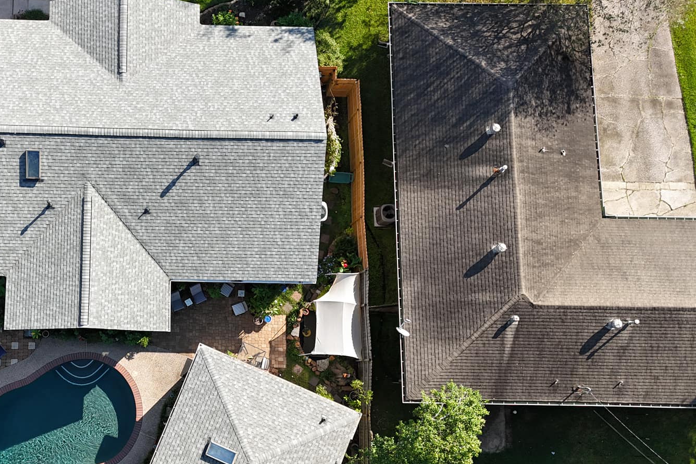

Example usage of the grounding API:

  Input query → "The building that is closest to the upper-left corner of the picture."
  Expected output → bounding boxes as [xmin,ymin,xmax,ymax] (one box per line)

[0,0,325,332]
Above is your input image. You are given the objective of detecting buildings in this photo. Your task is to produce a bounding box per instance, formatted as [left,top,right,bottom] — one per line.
[369,0,696,407]
[147,342,363,464]
[0,0,325,332]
